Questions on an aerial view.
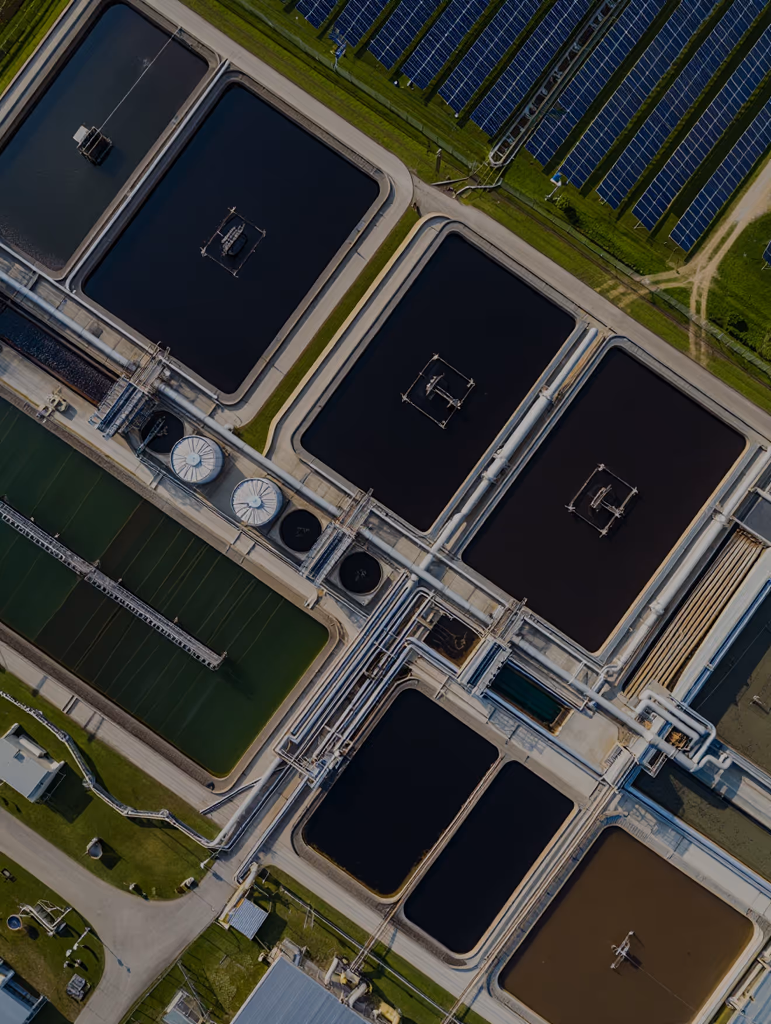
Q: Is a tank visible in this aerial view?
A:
Yes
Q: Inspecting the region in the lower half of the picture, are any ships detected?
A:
No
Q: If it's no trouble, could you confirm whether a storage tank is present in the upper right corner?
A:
No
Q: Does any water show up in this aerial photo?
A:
Yes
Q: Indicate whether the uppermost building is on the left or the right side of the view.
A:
right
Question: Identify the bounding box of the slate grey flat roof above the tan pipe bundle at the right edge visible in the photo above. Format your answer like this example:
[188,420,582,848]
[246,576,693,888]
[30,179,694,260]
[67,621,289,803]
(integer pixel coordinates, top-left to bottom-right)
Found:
[740,496,771,541]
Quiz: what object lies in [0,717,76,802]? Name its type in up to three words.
building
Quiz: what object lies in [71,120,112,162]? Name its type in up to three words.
ship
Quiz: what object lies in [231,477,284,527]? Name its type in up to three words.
storage tank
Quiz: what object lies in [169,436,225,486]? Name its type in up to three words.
storage tank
